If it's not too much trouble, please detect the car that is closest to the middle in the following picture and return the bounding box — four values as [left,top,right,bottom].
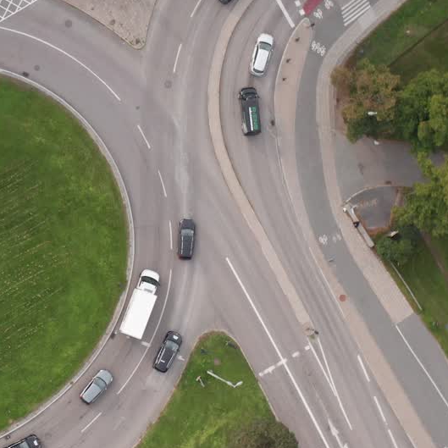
[176,218,197,259]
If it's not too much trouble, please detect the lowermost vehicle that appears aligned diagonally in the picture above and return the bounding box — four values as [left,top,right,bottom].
[78,369,112,405]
